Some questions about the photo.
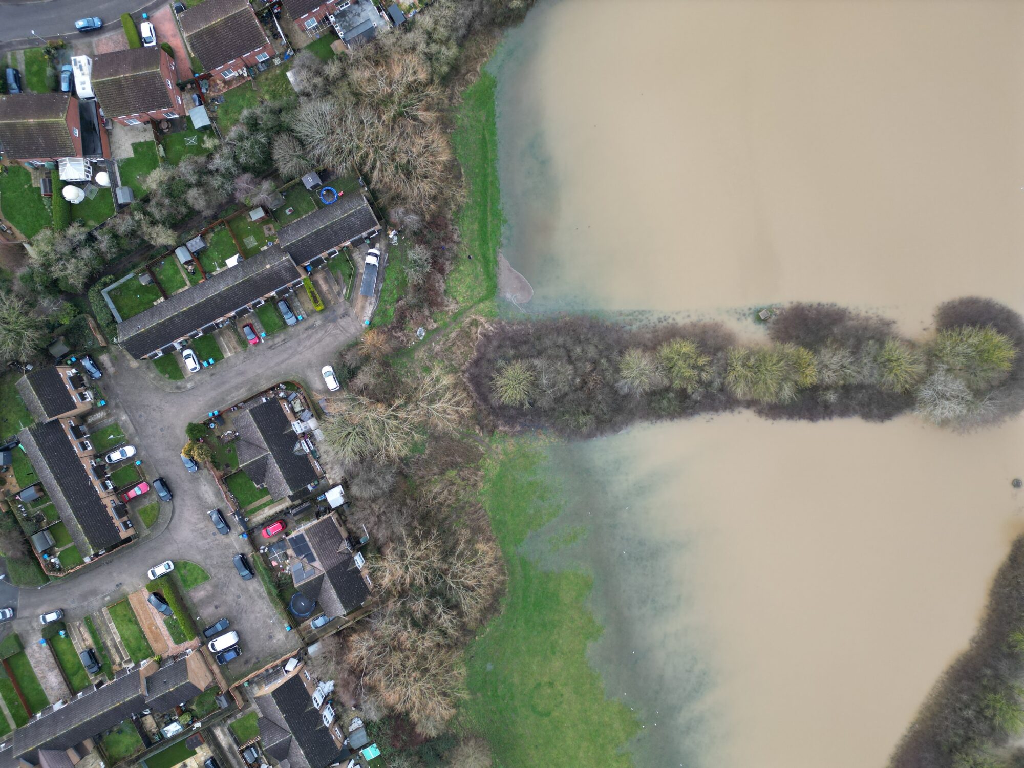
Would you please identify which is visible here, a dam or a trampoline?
trampoline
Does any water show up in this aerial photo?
Yes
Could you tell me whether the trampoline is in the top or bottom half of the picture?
bottom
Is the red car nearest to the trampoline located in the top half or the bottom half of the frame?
bottom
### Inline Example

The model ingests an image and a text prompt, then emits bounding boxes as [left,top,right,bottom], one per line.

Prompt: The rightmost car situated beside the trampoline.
[310,614,336,631]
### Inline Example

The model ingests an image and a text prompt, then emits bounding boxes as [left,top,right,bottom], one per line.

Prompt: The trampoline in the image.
[287,591,317,618]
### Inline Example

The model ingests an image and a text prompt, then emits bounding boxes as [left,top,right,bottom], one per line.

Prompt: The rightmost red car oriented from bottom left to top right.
[261,518,288,539]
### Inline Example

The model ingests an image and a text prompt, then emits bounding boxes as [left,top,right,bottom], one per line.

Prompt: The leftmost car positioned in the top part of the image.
[5,67,24,95]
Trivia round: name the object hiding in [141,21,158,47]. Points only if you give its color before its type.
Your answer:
white car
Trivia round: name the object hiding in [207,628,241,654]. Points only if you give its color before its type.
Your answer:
white vehicle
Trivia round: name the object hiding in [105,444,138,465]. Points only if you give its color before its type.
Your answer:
white car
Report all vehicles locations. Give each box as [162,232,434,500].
[178,452,199,474]
[204,754,221,768]
[147,592,174,618]
[360,249,380,297]
[203,616,231,640]
[72,56,100,103]
[79,649,102,674]
[231,552,255,582]
[141,21,158,47]
[81,356,103,381]
[121,482,151,504]
[0,606,16,619]
[148,559,176,580]
[105,444,138,465]
[208,508,231,536]
[207,628,241,654]
[276,298,298,326]
[182,347,202,374]
[60,65,75,93]
[322,365,341,392]
[261,518,288,539]
[75,16,104,32]
[40,607,66,624]
[242,322,261,346]
[152,477,174,503]
[5,67,24,95]
[310,614,336,631]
